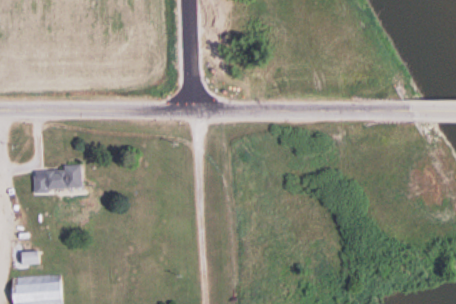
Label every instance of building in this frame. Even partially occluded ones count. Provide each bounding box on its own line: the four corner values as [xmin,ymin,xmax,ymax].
[12,276,62,304]
[20,251,40,266]
[32,164,89,201]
